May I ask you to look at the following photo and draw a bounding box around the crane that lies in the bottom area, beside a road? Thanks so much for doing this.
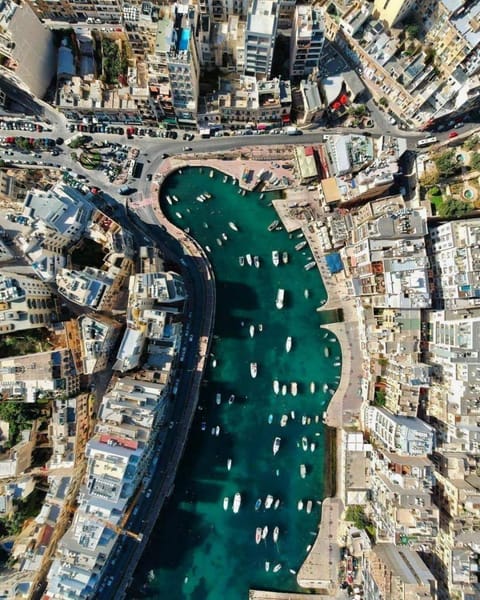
[70,485,148,543]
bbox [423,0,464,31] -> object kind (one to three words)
building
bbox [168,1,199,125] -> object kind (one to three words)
building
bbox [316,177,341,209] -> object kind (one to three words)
house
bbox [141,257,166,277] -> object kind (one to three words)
house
